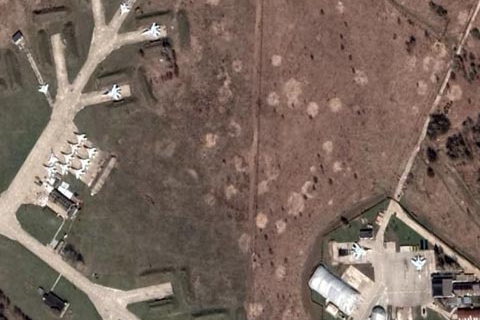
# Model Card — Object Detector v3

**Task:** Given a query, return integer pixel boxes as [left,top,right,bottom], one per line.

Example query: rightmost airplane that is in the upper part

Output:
[141,24,162,37]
